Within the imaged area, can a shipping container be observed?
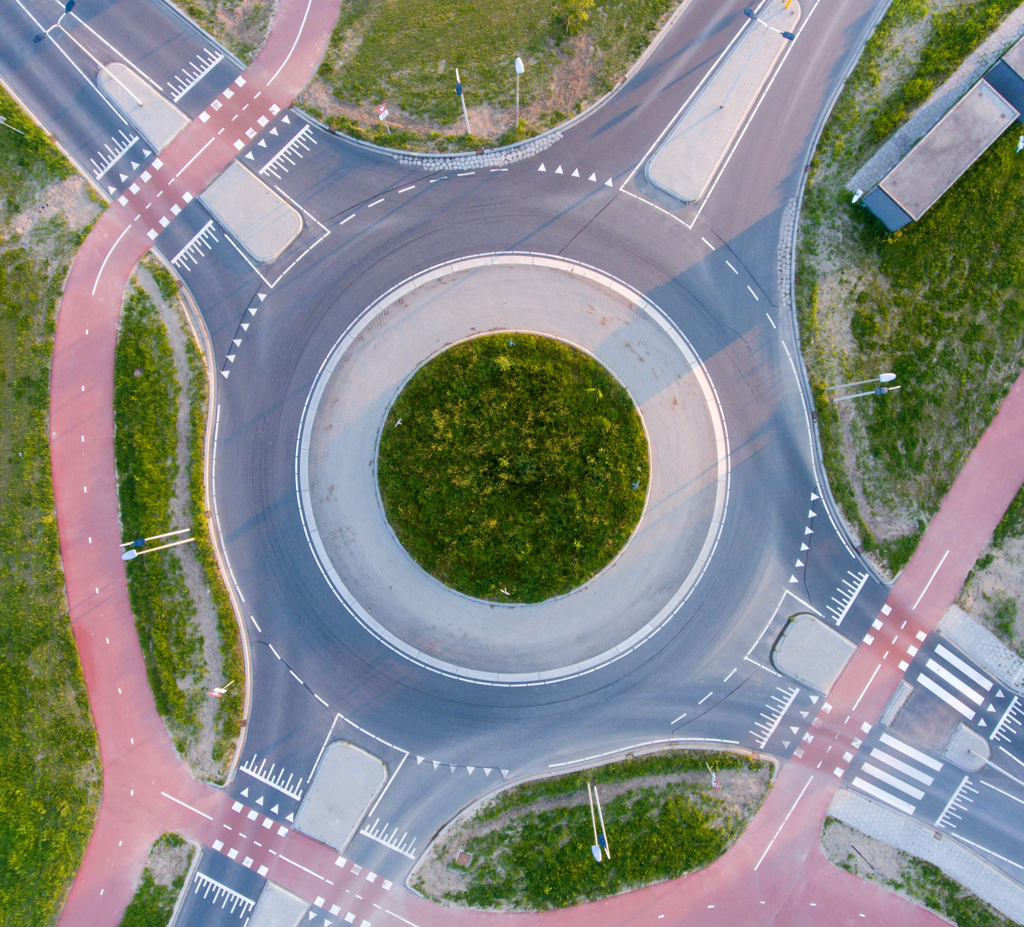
No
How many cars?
0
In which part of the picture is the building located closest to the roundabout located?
top right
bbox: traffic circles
[152,0,893,890]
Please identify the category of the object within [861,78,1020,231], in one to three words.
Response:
building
